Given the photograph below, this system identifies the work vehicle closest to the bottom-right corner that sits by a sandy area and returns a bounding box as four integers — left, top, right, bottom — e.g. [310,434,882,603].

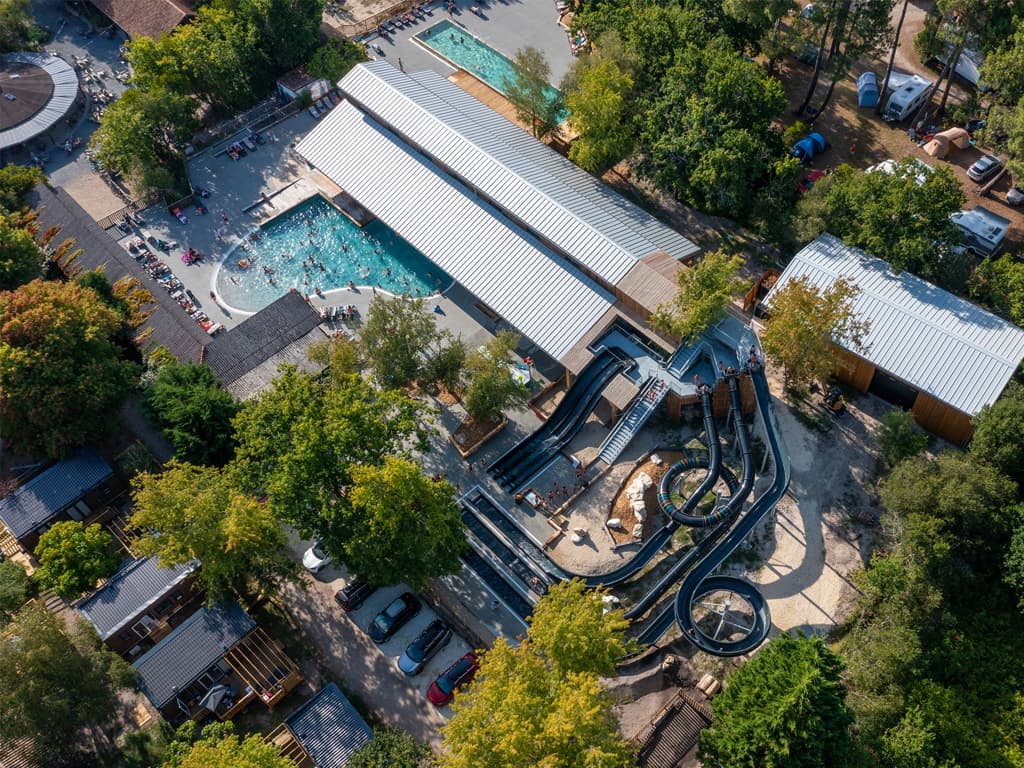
[821,387,866,412]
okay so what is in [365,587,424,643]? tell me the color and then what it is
black car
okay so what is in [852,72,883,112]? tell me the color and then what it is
blue tent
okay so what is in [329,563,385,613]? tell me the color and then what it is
black car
